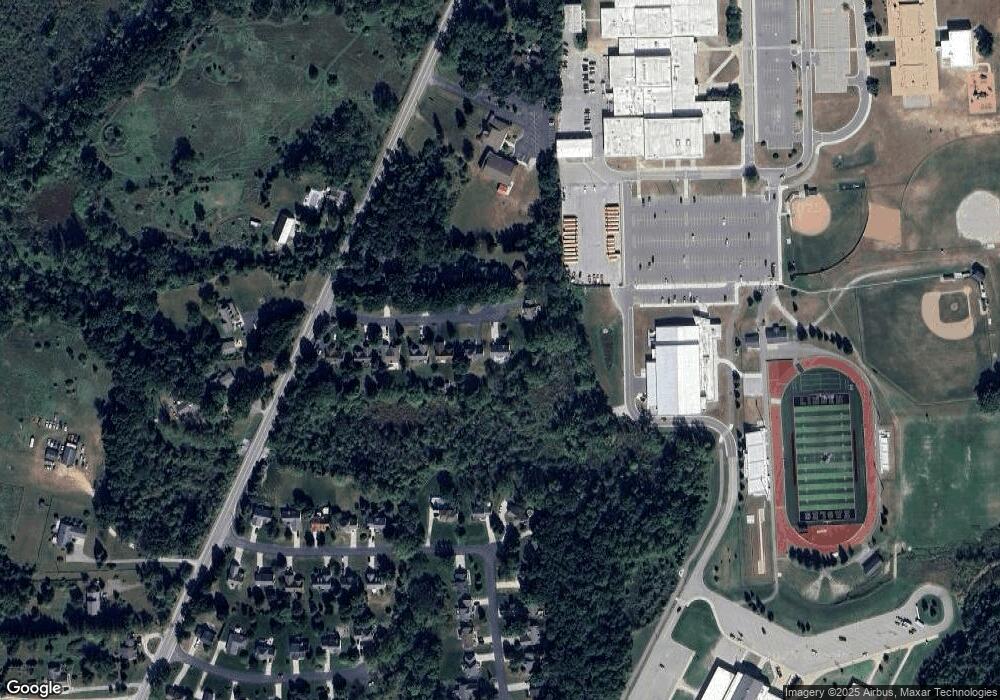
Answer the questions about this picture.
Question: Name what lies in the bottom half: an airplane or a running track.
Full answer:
Looking in the bottom half, you will find a running track.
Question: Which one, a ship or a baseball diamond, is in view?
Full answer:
I can see a baseball diamond in this picture.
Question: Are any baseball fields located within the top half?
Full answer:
Yes, I can see a baseball field within the top half.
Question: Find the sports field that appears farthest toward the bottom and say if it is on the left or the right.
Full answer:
It is on the right.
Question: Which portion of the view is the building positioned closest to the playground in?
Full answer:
You can find the building positioned closest to the playground in the top right area of the picture.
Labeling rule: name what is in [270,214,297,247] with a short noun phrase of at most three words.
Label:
barn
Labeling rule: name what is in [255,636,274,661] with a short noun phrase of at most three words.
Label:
house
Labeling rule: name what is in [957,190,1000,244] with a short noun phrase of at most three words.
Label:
baseball field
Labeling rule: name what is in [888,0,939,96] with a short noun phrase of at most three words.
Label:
building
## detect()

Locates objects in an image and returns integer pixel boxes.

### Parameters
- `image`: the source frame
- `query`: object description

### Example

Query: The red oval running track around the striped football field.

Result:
[768,353,881,558]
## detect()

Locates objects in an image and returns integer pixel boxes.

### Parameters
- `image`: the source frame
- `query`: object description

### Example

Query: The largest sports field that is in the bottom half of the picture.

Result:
[781,368,867,525]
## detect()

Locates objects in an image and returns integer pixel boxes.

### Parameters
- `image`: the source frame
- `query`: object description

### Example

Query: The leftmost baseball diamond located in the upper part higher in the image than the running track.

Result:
[790,192,831,235]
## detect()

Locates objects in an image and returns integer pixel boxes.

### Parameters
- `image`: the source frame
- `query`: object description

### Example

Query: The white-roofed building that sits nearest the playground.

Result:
[941,28,976,67]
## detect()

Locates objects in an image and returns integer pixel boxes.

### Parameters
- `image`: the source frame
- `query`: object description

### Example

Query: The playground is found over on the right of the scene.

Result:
[968,62,995,113]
